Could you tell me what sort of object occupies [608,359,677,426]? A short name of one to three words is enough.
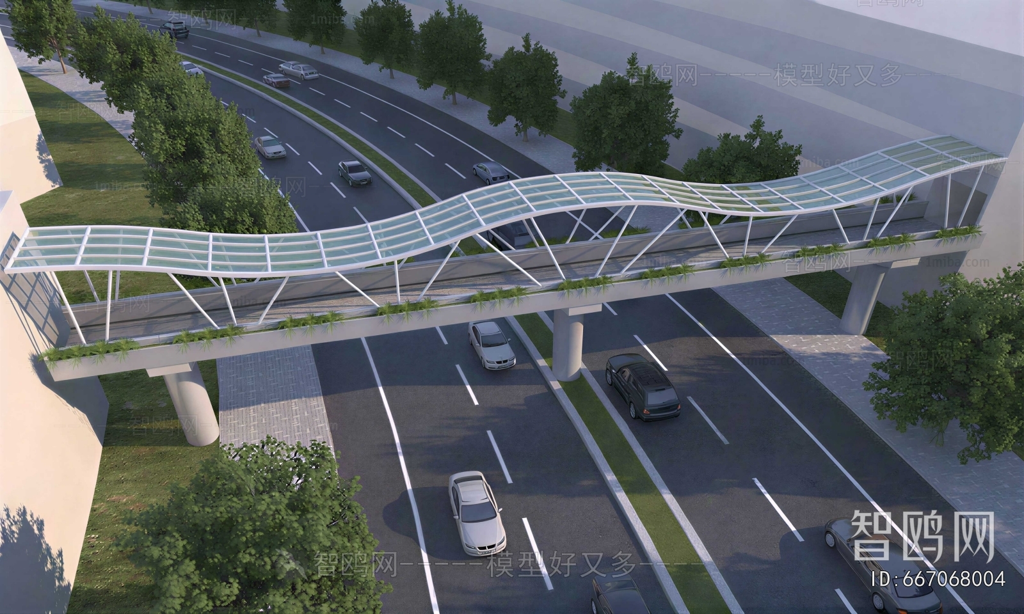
car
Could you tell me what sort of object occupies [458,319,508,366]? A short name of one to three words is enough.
car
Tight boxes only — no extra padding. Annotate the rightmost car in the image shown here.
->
[828,514,942,614]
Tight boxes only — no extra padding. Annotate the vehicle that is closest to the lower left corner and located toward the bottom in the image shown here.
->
[443,460,504,552]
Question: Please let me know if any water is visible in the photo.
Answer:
No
